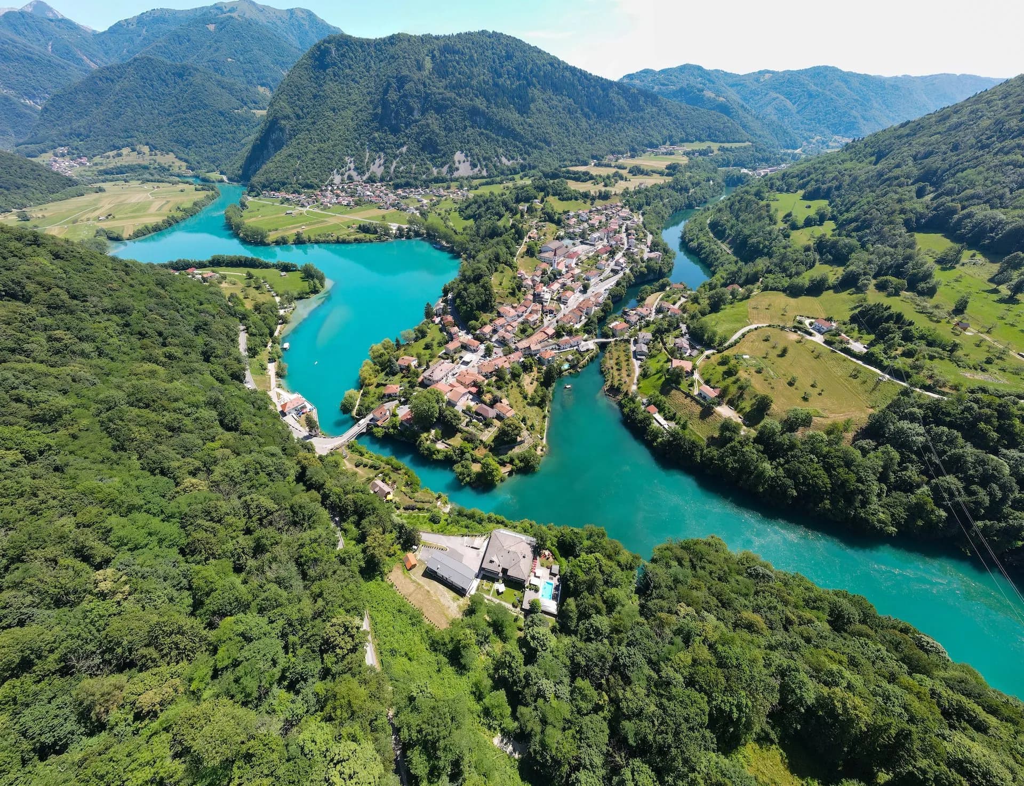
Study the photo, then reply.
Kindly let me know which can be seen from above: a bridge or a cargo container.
bridge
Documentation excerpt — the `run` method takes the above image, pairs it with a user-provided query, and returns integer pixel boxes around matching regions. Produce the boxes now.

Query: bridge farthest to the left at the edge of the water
[334,409,381,449]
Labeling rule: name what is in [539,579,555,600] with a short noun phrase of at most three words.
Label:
swimming pool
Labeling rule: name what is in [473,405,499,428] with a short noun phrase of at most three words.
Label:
house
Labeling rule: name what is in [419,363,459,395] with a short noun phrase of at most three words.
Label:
house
